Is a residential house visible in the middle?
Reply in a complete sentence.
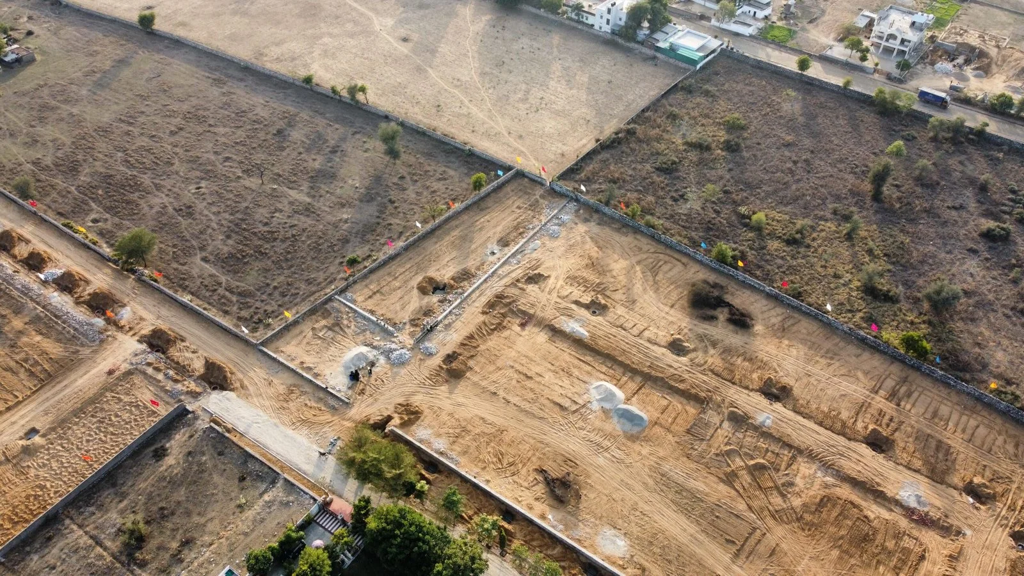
No, no residential house can be made out in the middle.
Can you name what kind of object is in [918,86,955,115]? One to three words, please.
truck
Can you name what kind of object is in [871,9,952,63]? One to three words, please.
house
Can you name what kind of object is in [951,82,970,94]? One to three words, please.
vehicle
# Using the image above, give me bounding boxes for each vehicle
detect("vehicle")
[918,86,955,115]
[317,447,330,459]
[951,82,970,94]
